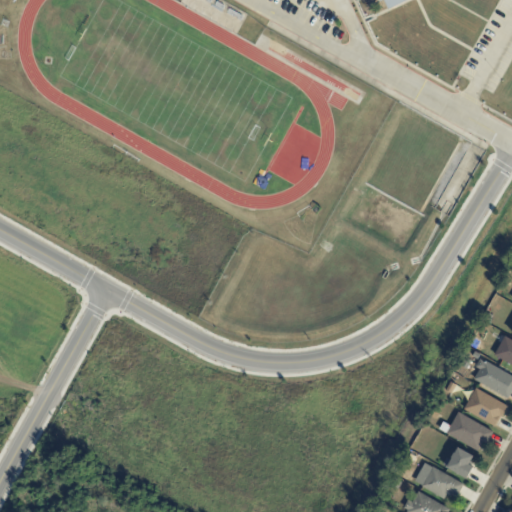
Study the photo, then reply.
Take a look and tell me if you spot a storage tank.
No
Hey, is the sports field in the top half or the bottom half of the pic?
top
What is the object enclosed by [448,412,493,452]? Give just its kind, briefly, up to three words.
house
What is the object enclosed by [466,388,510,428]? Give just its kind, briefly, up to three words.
house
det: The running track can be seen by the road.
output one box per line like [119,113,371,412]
[18,0,348,210]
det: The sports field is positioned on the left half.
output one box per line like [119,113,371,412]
[61,0,293,182]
